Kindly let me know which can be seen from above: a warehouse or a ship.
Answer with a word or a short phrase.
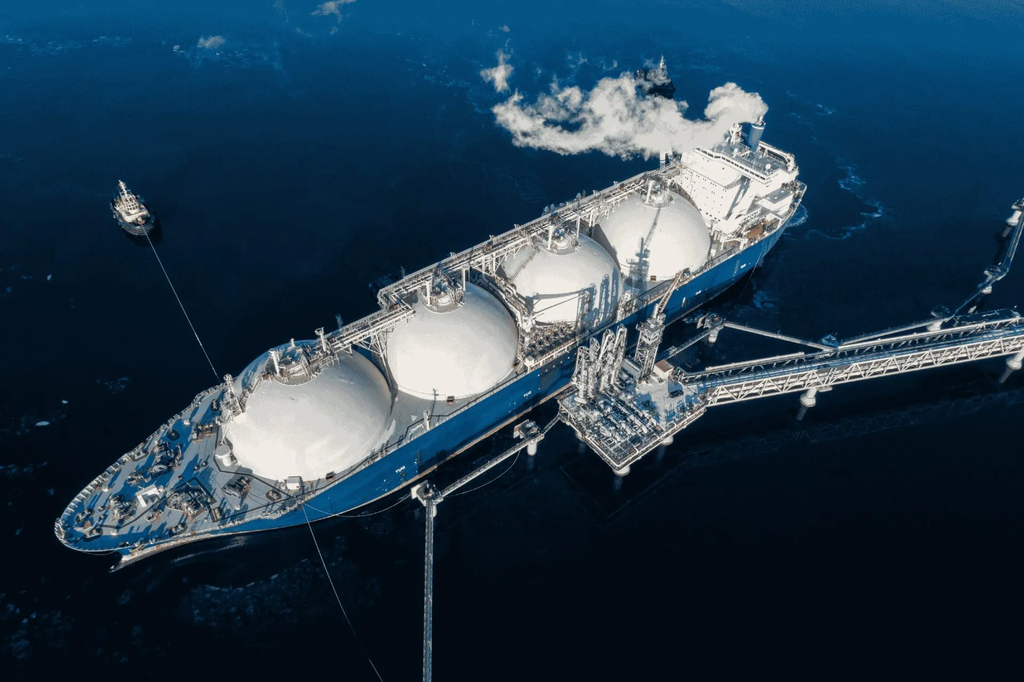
ship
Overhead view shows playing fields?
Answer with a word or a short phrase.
No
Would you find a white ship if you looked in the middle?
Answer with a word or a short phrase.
Yes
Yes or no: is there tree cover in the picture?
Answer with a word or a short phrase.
No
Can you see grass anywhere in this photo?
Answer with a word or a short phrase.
No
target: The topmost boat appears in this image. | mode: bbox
[638,58,675,92]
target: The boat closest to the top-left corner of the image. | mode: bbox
[104,184,152,235]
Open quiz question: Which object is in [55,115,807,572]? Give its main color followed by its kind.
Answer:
white ship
